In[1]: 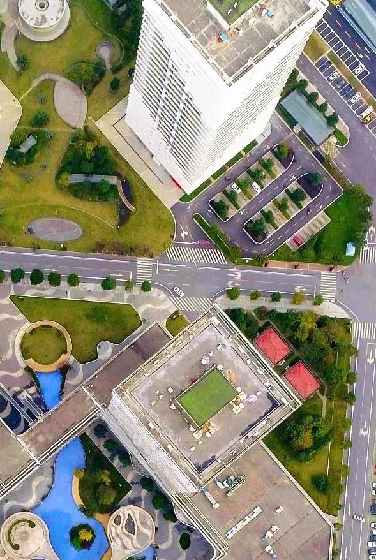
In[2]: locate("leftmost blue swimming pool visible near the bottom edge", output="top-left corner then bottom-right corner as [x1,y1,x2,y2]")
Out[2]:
[30,440,110,560]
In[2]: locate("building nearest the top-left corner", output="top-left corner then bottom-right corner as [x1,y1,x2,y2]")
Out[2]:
[13,0,71,44]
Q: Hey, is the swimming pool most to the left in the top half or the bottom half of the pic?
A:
bottom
